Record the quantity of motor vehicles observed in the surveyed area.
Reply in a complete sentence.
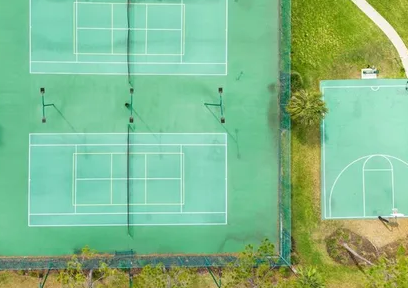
I count no motor vehicles.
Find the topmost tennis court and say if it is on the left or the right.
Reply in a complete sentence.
The topmost tennis court sits on the left side.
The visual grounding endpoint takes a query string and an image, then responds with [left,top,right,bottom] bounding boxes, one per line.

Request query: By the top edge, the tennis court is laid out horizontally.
[30,0,227,75]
